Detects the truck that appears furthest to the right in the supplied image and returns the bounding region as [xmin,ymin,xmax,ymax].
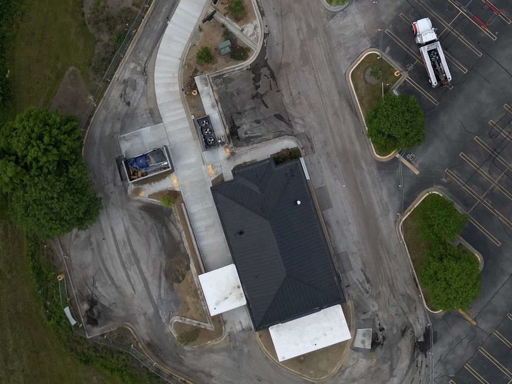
[414,21,454,96]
